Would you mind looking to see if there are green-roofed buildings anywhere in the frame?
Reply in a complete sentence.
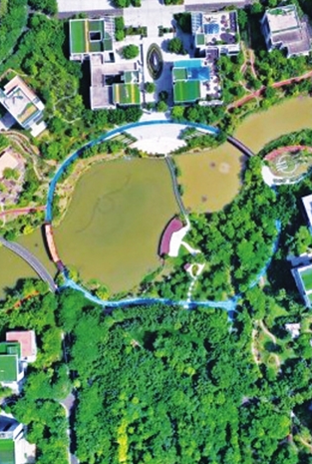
Yes, looking at the shot, I can spot a green-roofed building.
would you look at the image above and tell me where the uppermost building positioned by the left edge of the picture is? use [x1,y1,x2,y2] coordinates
[0,76,48,138]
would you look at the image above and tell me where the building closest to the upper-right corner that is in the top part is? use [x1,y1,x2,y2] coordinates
[261,4,312,61]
